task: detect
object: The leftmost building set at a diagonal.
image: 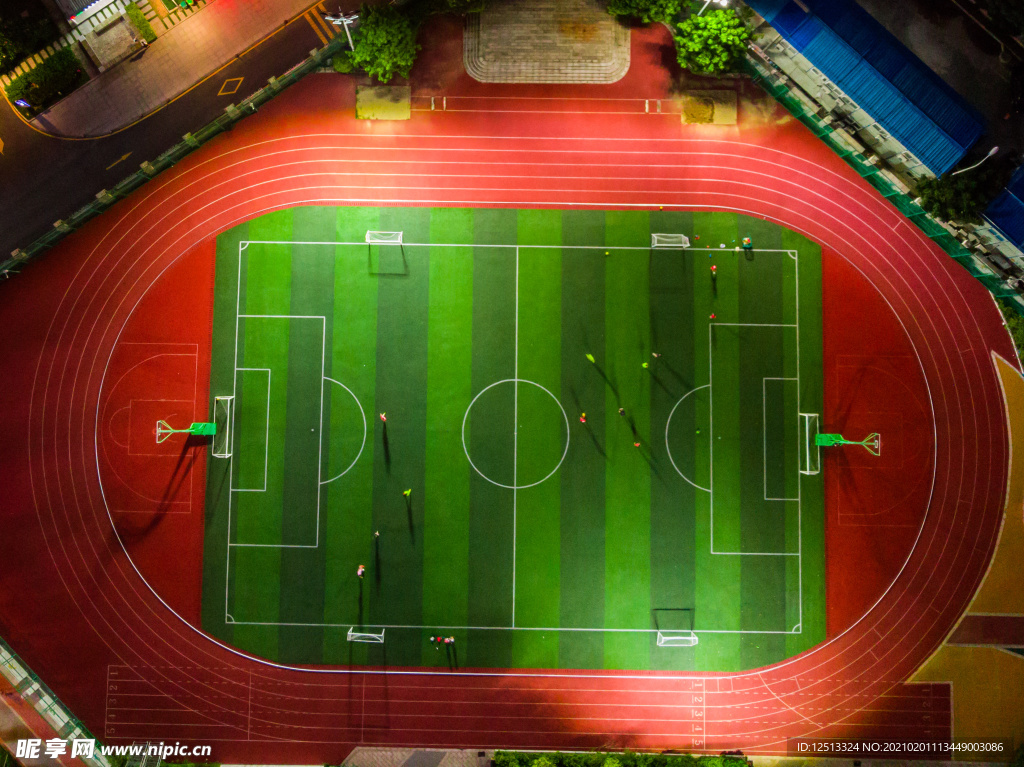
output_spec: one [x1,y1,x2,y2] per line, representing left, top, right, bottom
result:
[715,0,989,186]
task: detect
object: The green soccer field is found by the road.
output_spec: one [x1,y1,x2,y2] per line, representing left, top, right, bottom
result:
[201,208,826,669]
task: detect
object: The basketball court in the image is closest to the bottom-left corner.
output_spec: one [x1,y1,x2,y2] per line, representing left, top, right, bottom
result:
[97,232,217,633]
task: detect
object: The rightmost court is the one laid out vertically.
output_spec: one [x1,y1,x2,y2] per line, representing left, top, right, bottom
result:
[821,239,935,645]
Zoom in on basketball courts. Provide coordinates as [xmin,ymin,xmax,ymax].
[821,239,935,645]
[97,232,217,633]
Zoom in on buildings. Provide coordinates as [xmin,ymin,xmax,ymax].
[958,180,1024,283]
[715,0,989,186]
[58,0,119,25]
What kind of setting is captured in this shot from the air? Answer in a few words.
sports ground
